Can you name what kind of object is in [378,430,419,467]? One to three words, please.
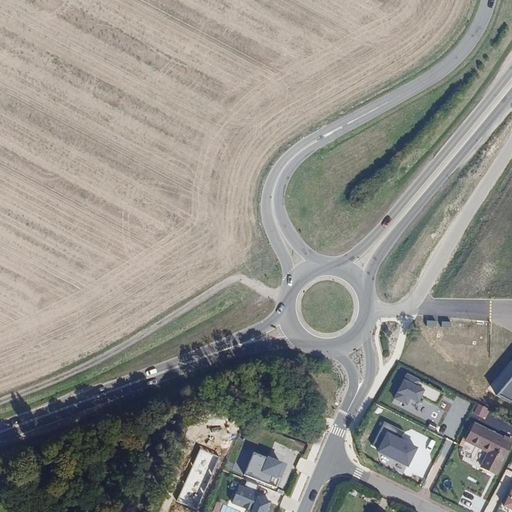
house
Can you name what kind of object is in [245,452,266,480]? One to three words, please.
house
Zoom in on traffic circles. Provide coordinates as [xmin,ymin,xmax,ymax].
[281,260,374,354]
